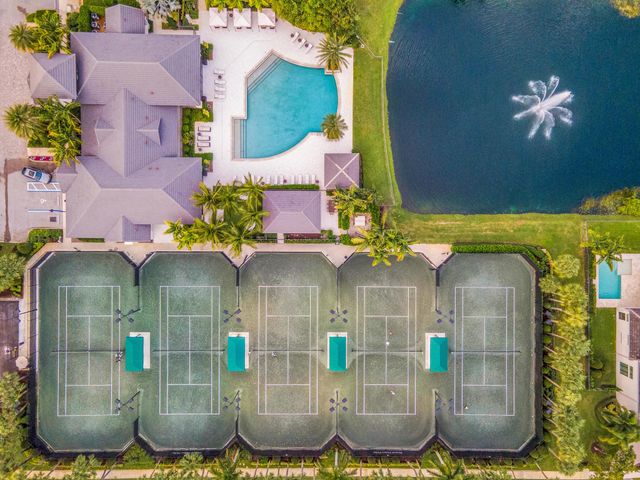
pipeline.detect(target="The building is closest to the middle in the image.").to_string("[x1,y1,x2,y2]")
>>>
[263,191,321,234]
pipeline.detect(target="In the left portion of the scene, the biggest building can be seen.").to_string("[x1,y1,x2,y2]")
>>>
[52,6,206,241]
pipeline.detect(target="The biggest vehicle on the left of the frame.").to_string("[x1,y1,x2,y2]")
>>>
[20,166,51,183]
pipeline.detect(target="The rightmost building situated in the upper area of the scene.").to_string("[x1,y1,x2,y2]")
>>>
[324,152,360,189]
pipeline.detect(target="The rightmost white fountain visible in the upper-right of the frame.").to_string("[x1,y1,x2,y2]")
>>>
[511,72,575,142]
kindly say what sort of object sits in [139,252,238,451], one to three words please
tennis court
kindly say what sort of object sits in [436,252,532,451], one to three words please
tennis court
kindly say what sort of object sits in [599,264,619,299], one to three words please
swimming pool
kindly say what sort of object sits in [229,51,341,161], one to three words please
swimming pool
